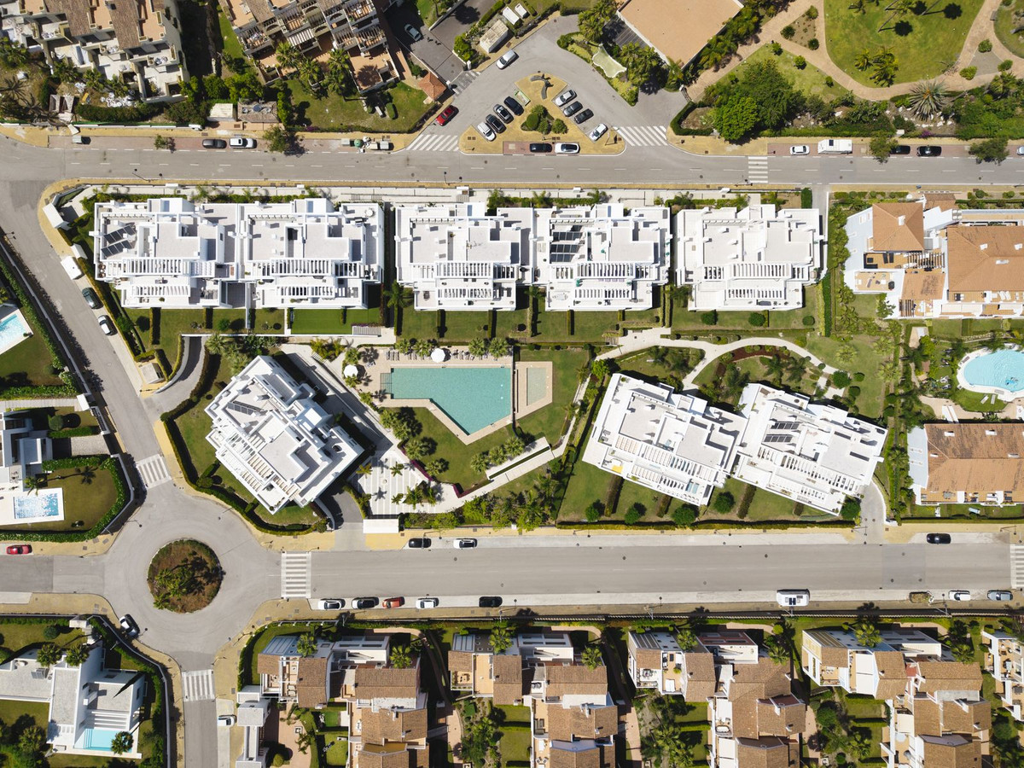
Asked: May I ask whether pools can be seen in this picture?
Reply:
Yes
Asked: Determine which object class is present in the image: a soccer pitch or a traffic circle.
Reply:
traffic circle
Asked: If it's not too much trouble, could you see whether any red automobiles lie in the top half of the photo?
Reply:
Yes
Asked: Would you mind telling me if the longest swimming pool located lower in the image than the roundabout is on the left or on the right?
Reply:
left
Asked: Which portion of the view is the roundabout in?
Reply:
bottom left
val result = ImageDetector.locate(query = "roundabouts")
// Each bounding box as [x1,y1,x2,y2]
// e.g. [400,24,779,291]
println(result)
[104,492,271,669]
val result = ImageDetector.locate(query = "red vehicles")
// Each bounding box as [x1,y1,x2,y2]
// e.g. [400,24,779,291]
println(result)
[382,596,404,608]
[435,104,458,127]
[8,544,31,555]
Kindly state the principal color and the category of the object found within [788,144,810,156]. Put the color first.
white vehicle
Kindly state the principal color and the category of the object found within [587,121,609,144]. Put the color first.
white car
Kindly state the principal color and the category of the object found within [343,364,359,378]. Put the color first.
white umbrella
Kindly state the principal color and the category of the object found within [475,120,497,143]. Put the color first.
white car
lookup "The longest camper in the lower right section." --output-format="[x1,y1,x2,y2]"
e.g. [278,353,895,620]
[774,589,811,607]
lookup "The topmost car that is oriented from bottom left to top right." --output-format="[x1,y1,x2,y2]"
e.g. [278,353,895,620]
[495,49,518,71]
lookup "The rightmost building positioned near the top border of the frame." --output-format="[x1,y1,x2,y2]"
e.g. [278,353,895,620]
[610,0,743,72]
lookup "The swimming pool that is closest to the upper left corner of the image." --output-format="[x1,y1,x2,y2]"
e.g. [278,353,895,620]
[0,314,33,354]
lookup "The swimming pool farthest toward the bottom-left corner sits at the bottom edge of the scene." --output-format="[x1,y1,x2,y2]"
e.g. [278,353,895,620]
[47,726,141,759]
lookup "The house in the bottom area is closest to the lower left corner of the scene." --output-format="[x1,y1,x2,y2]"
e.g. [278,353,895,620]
[0,634,147,753]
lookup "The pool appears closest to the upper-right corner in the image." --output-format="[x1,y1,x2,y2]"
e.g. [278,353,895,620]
[958,343,1024,399]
